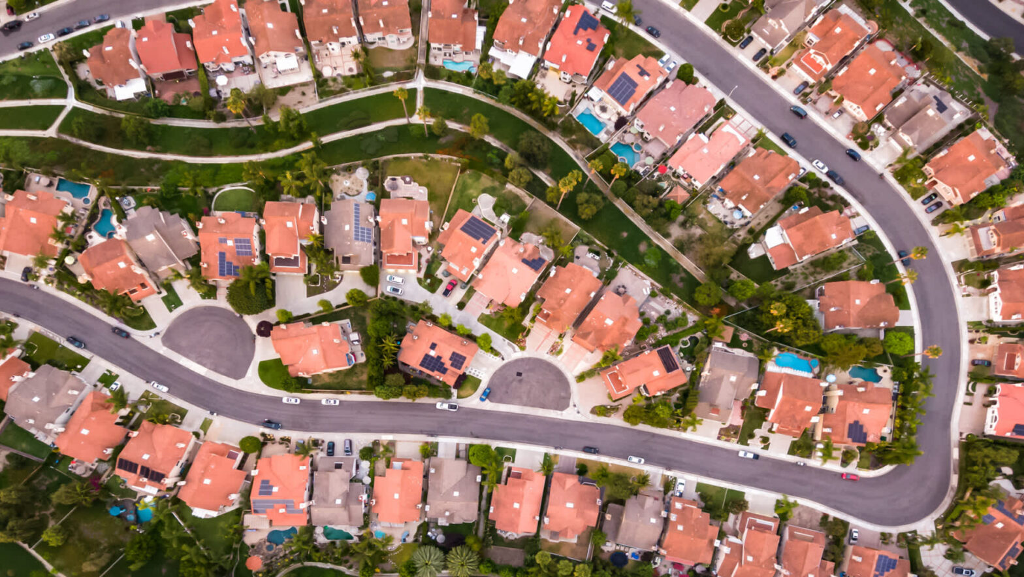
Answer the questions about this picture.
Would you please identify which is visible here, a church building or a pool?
pool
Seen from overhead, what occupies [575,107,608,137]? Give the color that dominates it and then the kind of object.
blue swimming pool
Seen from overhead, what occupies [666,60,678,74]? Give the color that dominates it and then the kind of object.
white vehicle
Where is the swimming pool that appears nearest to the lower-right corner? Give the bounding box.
[848,365,885,384]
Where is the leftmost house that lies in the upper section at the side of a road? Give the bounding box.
[0,190,76,258]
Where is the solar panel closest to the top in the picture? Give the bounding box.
[574,11,599,34]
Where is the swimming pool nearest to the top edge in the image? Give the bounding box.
[443,59,478,75]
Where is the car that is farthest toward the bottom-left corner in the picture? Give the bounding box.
[108,378,122,394]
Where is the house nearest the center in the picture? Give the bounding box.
[474,235,549,313]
